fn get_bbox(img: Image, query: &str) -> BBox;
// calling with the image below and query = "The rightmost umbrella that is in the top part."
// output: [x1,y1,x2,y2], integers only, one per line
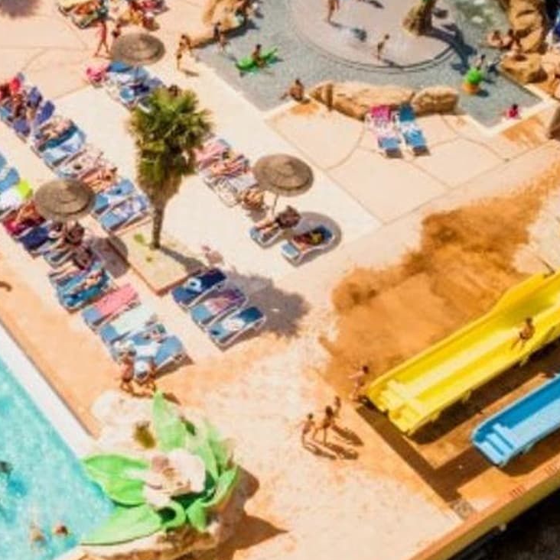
[250,159,314,218]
